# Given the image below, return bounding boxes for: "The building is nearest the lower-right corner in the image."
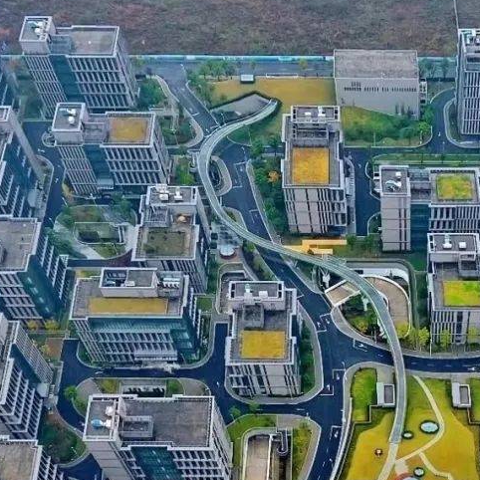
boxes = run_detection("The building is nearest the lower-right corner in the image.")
[452,382,472,412]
